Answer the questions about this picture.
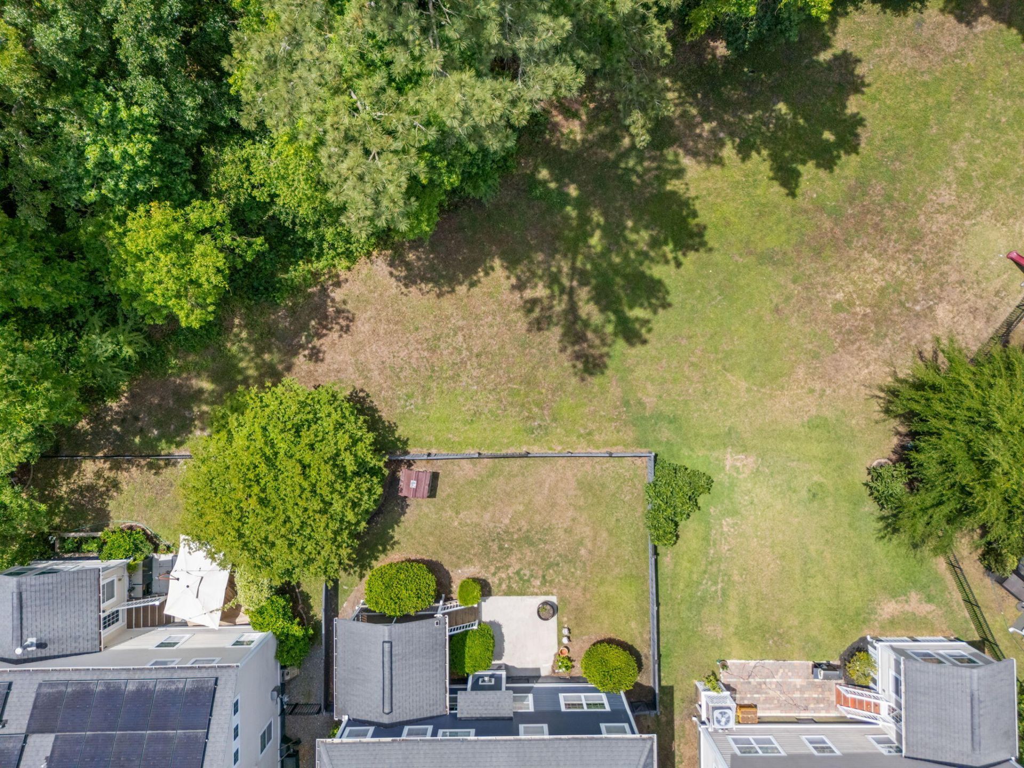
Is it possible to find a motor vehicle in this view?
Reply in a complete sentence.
No, there's no motor vehicle here.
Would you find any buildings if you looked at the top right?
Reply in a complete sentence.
No, the scene shows no building at the top right.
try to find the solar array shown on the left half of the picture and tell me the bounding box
[0,688,215,768]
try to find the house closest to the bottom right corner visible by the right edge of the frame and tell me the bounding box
[687,628,1024,768]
